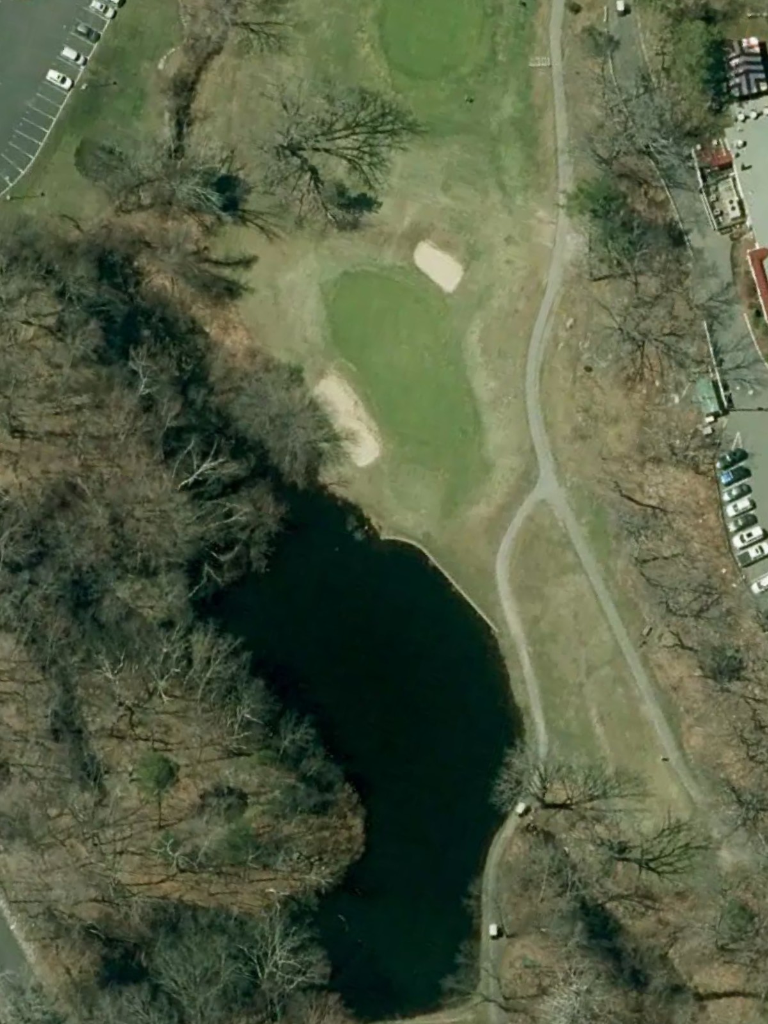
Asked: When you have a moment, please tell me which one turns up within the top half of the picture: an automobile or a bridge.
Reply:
automobile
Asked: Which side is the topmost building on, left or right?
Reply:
right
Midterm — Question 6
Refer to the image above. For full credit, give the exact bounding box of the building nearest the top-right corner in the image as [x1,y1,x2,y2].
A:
[727,37,768,102]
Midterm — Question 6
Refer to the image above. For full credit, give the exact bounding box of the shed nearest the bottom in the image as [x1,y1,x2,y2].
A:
[697,377,720,418]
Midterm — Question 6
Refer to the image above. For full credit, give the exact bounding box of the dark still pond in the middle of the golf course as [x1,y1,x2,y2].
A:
[182,481,523,1023]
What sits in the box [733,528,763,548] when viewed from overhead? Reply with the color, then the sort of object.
white car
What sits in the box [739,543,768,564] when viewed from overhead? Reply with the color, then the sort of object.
white truck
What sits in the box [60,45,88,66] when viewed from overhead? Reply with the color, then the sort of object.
white car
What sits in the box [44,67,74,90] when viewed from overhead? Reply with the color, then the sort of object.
white truck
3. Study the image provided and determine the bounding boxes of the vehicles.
[723,484,752,503]
[60,45,88,66]
[727,499,756,519]
[489,925,497,939]
[88,0,118,19]
[733,528,763,548]
[752,577,768,593]
[516,802,527,818]
[75,23,102,43]
[44,67,74,90]
[616,1,624,15]
[739,543,768,564]
[718,450,748,469]
[729,514,758,533]
[721,466,751,486]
